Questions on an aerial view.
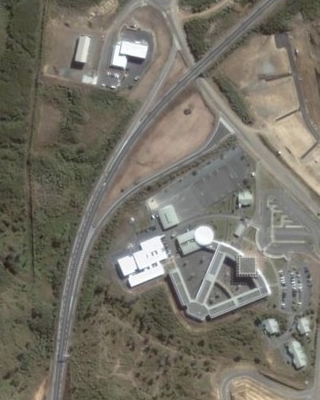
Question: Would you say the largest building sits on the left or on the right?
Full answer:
It is on the right.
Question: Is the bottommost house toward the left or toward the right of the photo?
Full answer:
It is on the right.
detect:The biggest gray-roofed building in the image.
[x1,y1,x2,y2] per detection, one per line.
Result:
[168,238,272,320]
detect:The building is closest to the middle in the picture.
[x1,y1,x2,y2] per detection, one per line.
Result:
[158,205,180,230]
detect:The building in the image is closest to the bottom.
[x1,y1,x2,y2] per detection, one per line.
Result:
[286,339,309,370]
